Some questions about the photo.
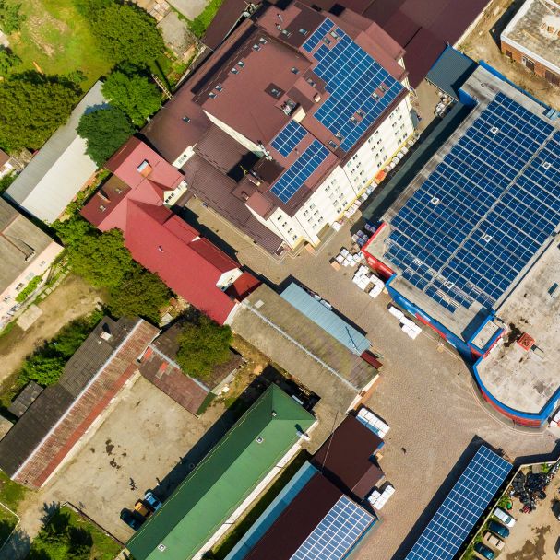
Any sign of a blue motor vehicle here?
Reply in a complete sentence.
Yes, the frame does contain a blue motor vehicle.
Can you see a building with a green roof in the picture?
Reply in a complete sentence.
Yes, the frame does contain a building with a green roof.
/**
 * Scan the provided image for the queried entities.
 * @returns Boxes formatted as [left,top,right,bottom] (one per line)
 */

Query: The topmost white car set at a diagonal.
[492,506,517,529]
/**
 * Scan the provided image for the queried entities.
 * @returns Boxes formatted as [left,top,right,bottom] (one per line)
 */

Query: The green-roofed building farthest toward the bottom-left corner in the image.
[126,384,317,560]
